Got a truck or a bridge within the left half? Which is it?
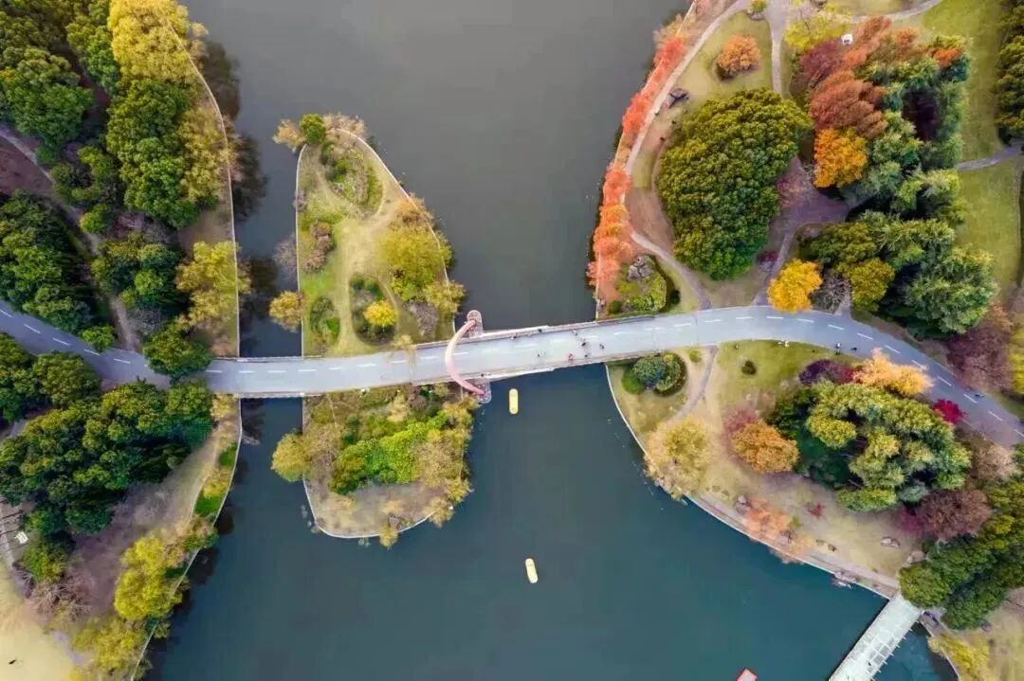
bridge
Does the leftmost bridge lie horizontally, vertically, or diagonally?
horizontally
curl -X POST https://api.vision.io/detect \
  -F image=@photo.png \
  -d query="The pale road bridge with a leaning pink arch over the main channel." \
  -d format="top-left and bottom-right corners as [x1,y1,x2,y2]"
[413,310,613,403]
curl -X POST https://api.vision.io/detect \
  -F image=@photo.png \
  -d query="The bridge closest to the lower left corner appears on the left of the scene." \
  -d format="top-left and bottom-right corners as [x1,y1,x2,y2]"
[206,356,307,398]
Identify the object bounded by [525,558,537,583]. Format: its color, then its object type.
white boat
